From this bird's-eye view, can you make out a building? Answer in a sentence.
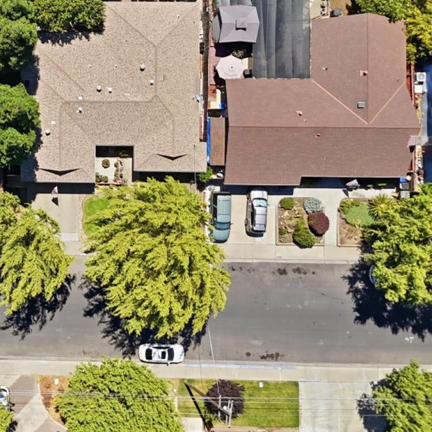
Yes, the picture does show a building.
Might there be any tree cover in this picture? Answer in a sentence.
Yes, the picture does contain tree cover.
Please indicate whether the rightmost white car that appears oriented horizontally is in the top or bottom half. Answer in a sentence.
The bottom half of the photo is where the rightmost white car that appears oriented horizontally is.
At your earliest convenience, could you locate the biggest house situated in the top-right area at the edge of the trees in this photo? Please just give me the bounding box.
[217,12,421,185]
